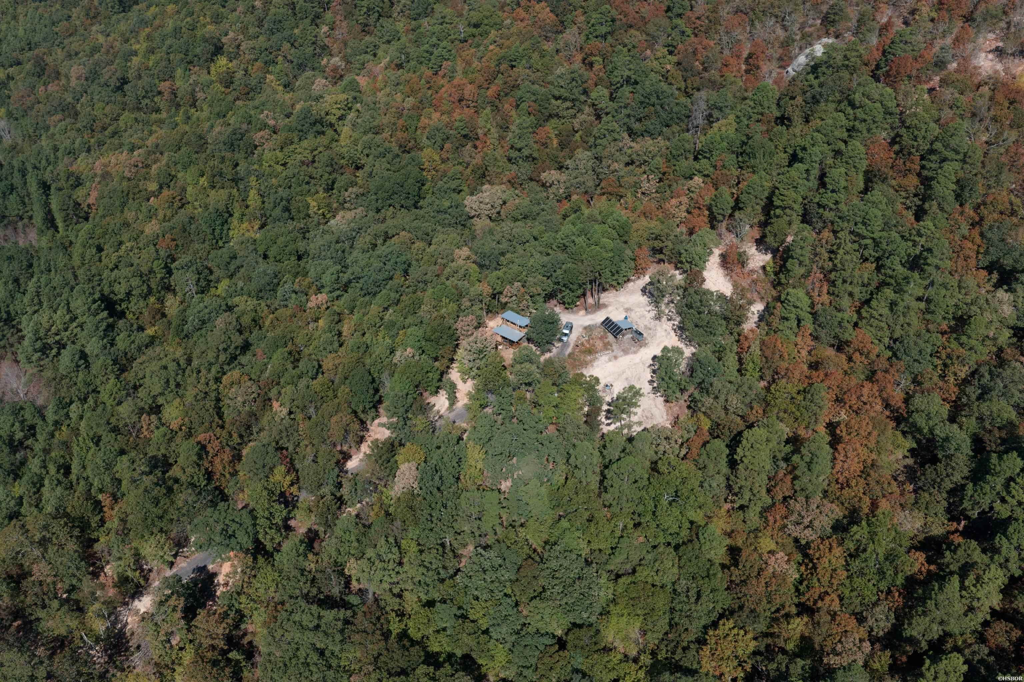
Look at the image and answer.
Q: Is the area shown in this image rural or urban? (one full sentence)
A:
The land in this view is best described as rural.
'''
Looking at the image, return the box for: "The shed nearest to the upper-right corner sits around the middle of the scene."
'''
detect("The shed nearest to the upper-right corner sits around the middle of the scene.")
[601,317,635,342]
